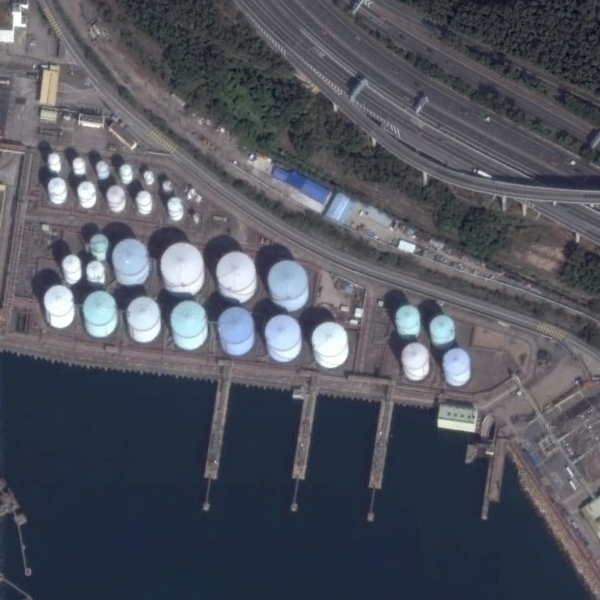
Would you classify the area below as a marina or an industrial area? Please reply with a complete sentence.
The picture captures an industrial area.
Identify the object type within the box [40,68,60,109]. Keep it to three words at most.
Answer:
building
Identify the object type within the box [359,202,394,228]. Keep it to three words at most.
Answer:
shed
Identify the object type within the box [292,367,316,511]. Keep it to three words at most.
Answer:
pier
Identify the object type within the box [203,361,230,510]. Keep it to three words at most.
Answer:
pier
